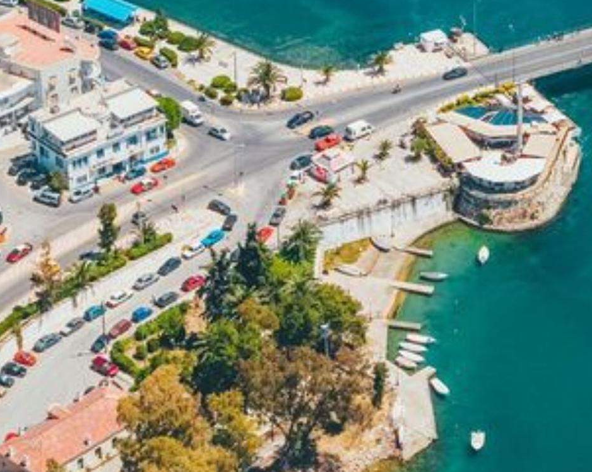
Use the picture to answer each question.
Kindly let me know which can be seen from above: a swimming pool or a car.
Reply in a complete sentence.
The one in the frame is a car.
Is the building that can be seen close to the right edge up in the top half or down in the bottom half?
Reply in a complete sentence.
The building that can be seen close to the right edge is in the top half of the image.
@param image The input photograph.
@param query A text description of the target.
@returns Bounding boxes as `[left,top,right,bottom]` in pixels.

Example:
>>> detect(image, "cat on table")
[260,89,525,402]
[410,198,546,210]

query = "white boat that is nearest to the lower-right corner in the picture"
[471,430,485,451]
